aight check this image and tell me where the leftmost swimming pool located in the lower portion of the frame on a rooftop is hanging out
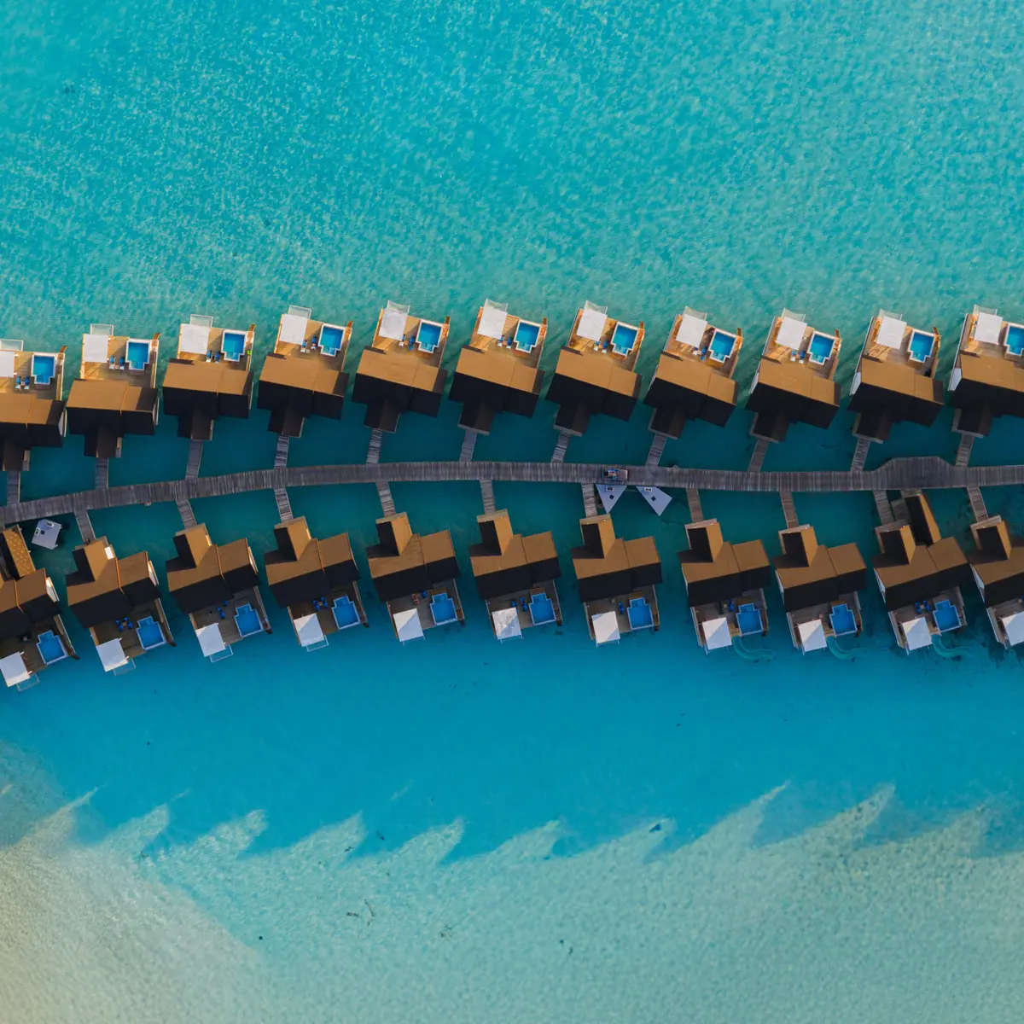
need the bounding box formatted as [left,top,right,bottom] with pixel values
[39,634,69,667]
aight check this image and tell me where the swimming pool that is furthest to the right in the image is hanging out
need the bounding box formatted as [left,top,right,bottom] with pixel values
[1003,324,1024,357]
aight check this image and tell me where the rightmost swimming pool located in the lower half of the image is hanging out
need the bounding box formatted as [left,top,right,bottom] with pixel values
[931,602,960,634]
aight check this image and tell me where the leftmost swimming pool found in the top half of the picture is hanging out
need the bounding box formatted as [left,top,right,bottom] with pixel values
[33,354,57,384]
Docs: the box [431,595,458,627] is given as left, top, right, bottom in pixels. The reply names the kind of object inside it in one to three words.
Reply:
swimming pool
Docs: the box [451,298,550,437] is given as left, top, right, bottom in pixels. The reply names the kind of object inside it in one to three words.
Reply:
house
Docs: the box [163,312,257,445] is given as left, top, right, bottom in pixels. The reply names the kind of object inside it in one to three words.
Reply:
house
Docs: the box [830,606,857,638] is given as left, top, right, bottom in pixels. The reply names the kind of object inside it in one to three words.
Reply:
swimming pool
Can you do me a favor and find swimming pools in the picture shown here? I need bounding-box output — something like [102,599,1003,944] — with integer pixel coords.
[236,607,264,639]
[807,331,836,364]
[514,320,542,354]
[221,332,247,363]
[431,595,458,627]
[319,325,346,358]
[125,340,150,371]
[138,621,167,653]
[33,354,57,384]
[611,322,639,356]
[736,605,763,637]
[931,602,960,634]
[529,595,556,627]
[708,330,738,363]
[1003,324,1024,357]
[332,599,360,632]
[628,600,654,631]
[39,634,69,667]
[907,330,936,363]
[830,606,857,638]
[416,321,444,354]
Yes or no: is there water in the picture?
Yes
